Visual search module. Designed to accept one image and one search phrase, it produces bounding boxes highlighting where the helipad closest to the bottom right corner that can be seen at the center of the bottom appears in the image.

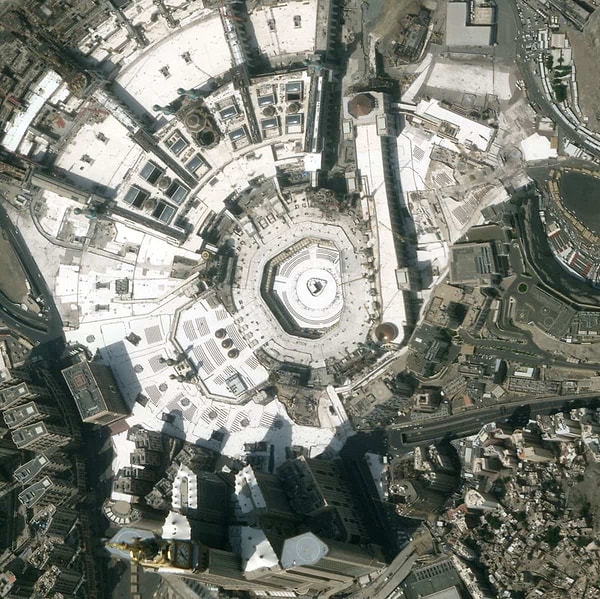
[280,532,328,567]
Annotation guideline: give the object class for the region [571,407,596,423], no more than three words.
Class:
building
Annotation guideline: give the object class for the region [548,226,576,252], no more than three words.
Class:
shed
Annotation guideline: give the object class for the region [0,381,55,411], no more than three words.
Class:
building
